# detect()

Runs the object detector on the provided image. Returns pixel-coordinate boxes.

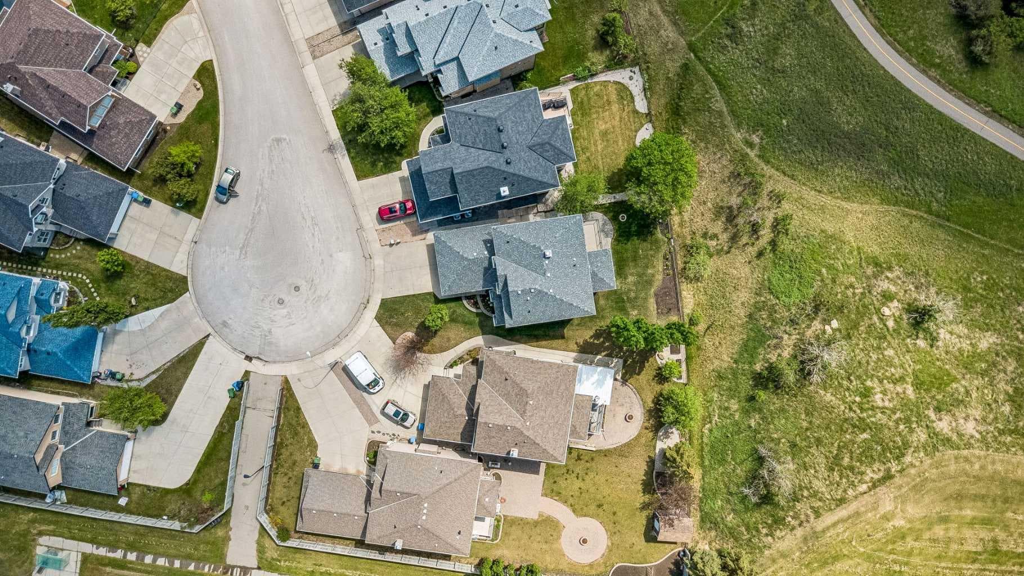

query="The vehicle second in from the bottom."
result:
[343,349,385,393]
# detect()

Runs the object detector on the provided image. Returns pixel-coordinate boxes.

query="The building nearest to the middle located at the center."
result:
[433,214,617,328]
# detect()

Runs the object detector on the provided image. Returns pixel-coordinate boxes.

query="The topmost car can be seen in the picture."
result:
[215,165,241,204]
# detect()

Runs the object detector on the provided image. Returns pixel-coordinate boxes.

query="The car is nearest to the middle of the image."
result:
[375,198,417,221]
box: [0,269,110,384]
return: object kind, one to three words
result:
house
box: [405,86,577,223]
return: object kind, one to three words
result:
house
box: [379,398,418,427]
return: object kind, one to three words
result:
car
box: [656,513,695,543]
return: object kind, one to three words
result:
shed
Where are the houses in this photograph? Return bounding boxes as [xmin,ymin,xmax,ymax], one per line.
[356,0,552,99]
[423,348,593,465]
[433,214,617,328]
[405,86,577,223]
[0,0,165,172]
[0,386,138,496]
[0,131,139,255]
[0,269,110,384]
[296,440,501,558]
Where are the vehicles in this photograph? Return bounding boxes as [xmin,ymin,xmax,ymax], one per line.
[343,349,385,393]
[379,398,418,427]
[215,165,241,204]
[375,198,417,221]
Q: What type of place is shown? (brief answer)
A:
residential area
